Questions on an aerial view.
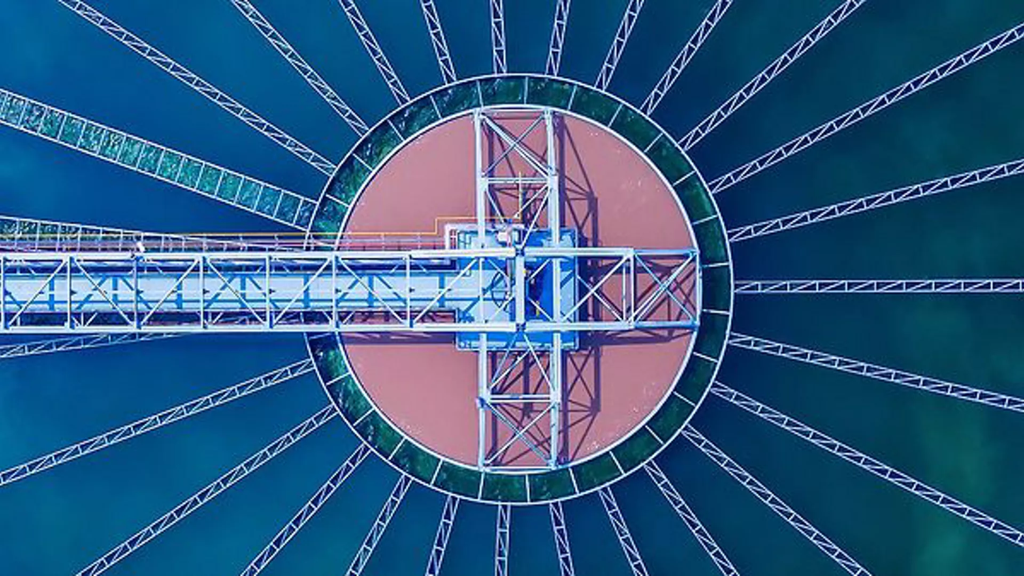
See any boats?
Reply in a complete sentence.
No, there isn't any boat down there.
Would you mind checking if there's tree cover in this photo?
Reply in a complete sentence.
No, the scene doesn't show any tree cover.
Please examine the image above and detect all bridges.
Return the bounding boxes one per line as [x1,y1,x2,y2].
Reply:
[0,232,701,331]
